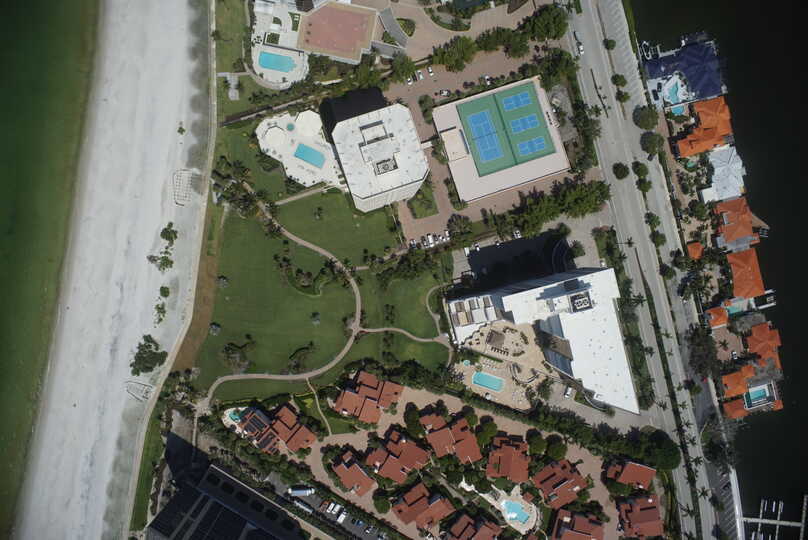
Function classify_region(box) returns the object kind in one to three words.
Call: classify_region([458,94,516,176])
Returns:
tennis court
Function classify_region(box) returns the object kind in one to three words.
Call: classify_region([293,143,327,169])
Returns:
swimming pool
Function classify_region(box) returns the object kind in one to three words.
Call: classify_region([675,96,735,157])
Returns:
house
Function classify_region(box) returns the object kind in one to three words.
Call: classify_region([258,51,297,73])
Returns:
swimming pool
